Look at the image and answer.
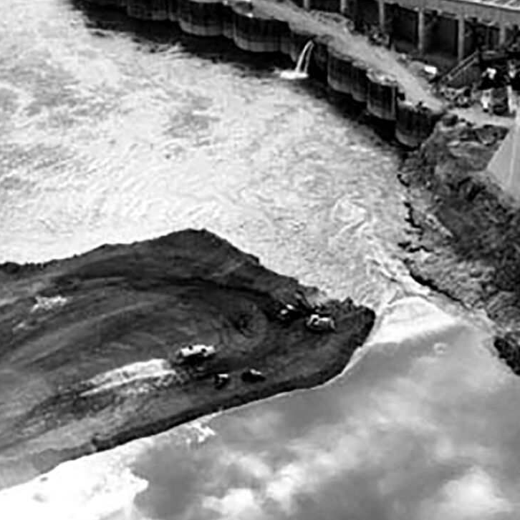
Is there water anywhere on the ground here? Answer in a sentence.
Yes, water shows up in the scene.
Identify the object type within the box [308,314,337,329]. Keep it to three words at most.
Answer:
vehicle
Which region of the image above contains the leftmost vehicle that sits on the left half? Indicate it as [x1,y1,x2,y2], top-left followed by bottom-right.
[177,343,213,362]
